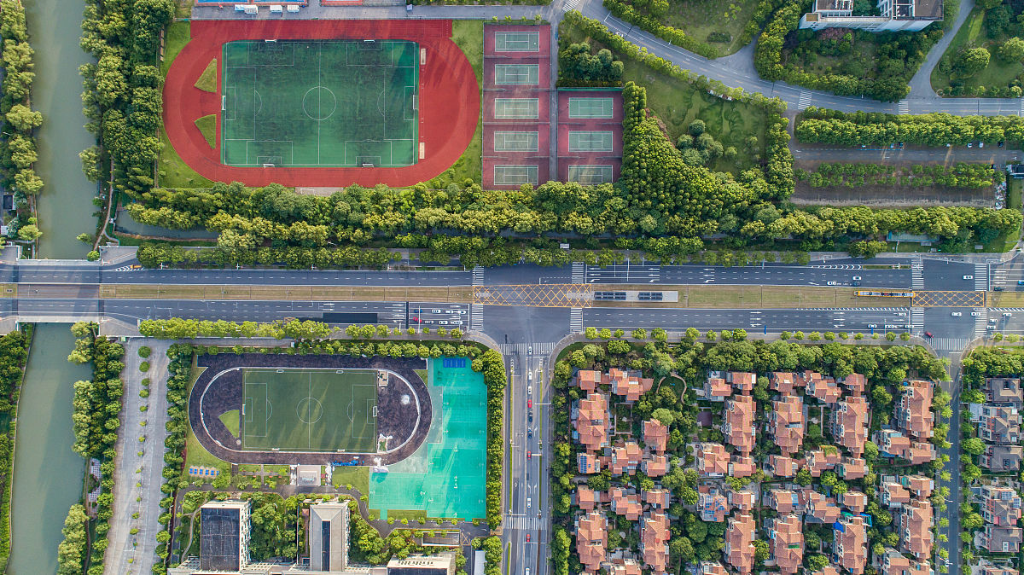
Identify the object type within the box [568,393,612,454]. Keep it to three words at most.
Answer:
house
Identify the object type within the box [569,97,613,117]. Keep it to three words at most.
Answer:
tennis court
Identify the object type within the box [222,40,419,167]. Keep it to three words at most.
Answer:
sports field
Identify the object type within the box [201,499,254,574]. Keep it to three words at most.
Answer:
building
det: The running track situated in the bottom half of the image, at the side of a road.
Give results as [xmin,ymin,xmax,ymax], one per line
[189,354,432,466]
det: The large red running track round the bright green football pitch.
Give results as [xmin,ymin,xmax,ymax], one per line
[162,20,479,187]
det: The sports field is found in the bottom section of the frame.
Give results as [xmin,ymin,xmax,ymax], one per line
[242,369,376,452]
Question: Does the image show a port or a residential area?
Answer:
residential area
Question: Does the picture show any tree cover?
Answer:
Yes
